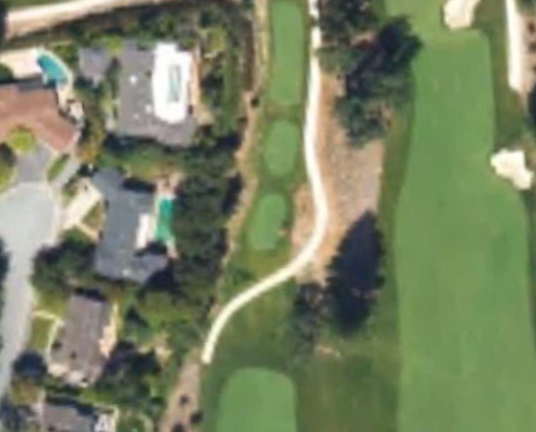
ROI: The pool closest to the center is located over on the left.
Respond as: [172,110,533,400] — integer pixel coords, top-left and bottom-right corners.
[154,197,177,241]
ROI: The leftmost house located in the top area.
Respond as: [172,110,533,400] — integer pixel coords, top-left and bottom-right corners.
[0,80,77,154]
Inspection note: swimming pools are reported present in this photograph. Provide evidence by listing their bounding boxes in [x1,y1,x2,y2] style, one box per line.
[167,64,182,101]
[154,197,177,241]
[36,54,70,85]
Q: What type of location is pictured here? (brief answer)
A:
golf course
